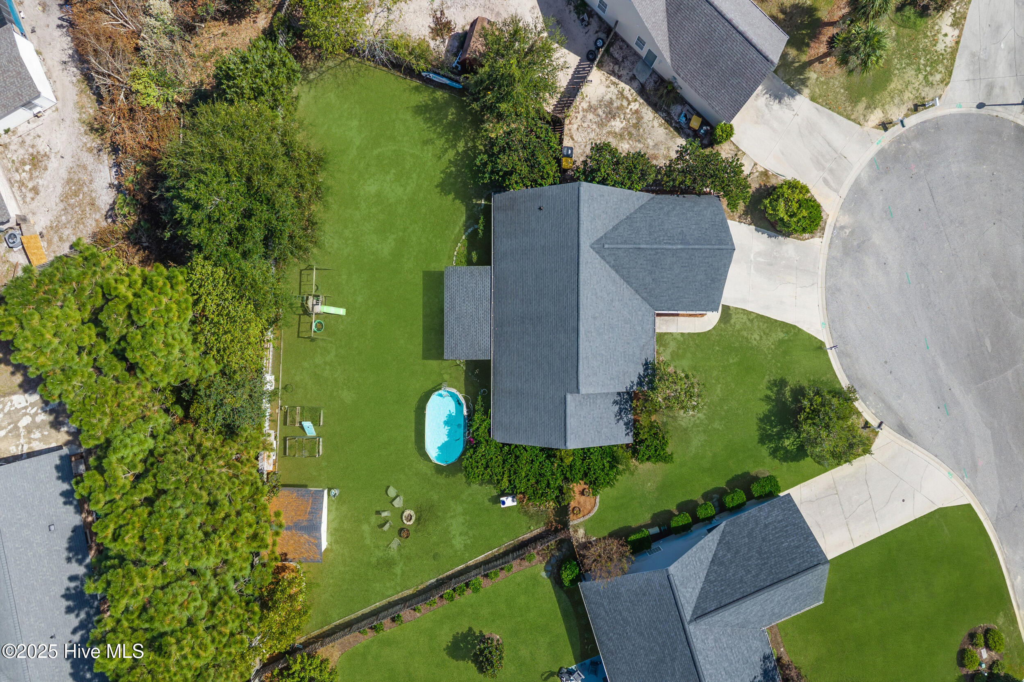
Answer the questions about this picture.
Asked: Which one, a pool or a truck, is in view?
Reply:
pool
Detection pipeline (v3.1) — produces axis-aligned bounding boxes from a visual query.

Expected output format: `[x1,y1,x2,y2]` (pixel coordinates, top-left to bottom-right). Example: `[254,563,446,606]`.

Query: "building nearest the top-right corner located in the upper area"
[595,0,790,126]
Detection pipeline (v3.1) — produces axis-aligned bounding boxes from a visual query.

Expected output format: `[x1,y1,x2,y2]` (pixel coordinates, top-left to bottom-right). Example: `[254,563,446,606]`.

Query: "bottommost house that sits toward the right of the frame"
[577,495,829,682]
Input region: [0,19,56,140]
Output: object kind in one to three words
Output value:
house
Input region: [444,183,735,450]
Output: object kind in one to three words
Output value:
house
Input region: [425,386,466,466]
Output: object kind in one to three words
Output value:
swimming pool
